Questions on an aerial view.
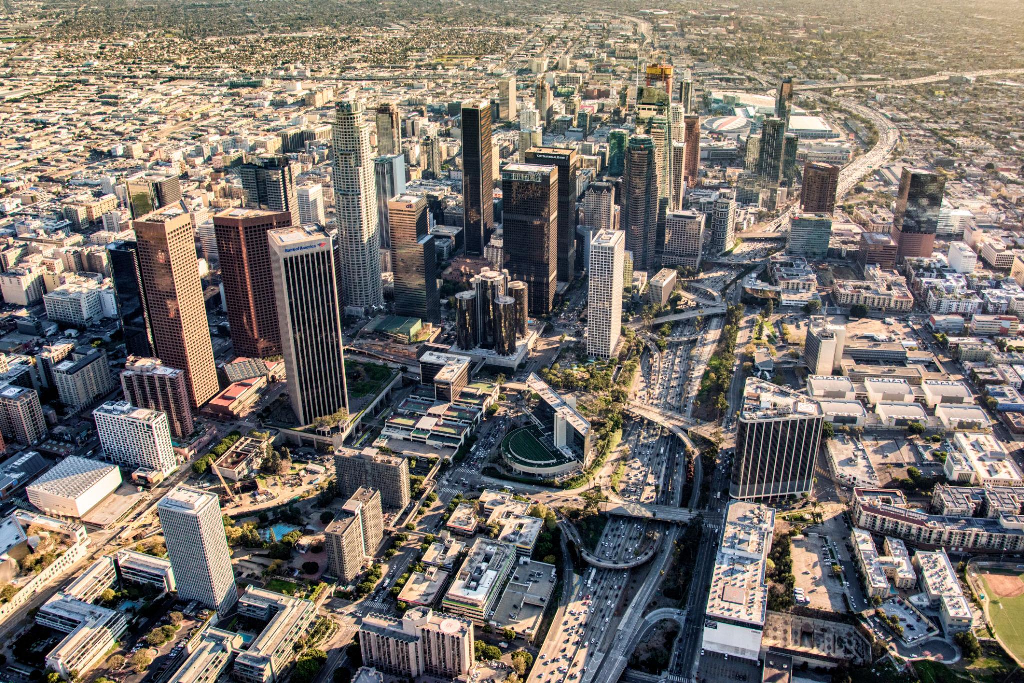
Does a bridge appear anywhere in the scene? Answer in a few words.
Yes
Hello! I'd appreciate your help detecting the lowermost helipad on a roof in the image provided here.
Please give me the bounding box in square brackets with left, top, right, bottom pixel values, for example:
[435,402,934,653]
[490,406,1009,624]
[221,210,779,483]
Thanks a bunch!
[438,615,462,633]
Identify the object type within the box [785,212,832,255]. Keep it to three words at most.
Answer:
building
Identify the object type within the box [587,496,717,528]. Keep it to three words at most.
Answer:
bridge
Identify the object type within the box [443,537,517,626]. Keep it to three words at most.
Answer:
building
